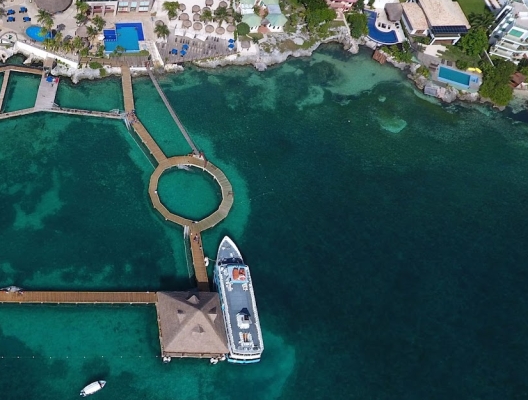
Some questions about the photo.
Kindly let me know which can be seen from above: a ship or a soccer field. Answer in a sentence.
It is a ship that can be seen here.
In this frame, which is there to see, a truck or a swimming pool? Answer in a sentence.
I can see a swimming pool in this picture.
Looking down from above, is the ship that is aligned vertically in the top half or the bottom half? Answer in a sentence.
Seen from above, the ship that is aligned vertically lies in the bottom half of the view.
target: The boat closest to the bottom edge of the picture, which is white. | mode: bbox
[79,380,106,398]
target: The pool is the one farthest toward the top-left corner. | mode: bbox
[24,24,55,42]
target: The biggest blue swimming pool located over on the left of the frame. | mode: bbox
[102,22,146,53]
